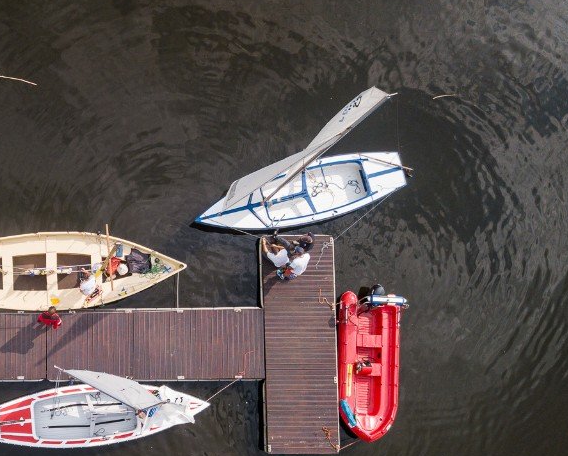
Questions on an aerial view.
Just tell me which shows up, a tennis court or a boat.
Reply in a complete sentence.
The image shows a boat.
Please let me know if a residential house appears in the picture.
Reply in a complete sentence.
No, the picture doesn't show any residential house.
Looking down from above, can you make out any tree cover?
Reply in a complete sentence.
No, the scene doesn't show any tree cover.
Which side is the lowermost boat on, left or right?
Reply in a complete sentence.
The lowermost boat sits on the left side.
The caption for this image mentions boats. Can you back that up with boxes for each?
[193,86,413,233]
[334,278,409,442]
[0,367,211,448]
[0,231,188,310]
